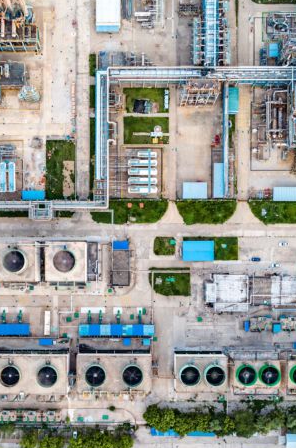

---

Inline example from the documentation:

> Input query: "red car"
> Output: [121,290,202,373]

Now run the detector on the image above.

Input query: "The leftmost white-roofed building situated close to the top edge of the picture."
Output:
[95,0,120,27]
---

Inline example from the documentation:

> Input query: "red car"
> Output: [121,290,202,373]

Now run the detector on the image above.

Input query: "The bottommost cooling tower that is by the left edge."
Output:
[0,351,69,395]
